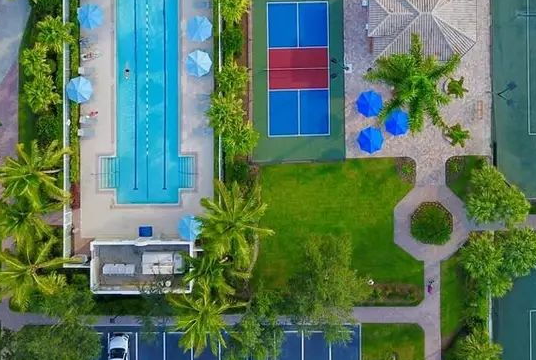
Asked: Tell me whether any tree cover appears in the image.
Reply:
Yes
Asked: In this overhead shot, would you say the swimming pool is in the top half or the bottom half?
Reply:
top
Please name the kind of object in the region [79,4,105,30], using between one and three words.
umbrella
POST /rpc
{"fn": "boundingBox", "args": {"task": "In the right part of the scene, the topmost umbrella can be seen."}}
[356,91,381,116]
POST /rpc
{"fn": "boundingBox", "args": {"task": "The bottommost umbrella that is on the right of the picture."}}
[357,127,384,153]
